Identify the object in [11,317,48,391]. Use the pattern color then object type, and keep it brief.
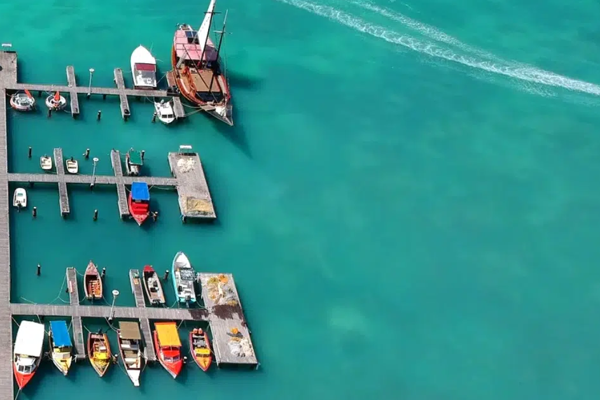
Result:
white boat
